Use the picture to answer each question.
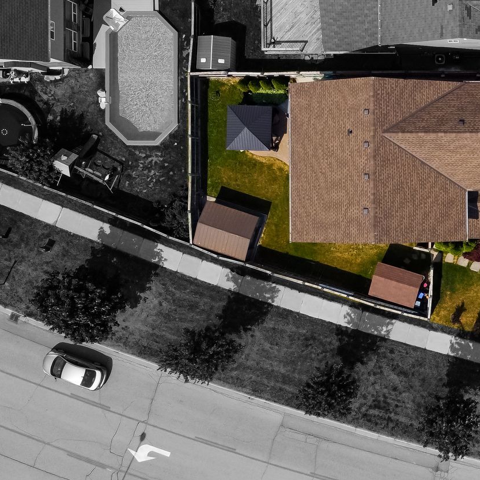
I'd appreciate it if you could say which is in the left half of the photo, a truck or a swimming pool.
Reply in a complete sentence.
What appears in the left half of the photo is a swimming pool.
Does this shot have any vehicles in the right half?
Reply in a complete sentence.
No, I see no vehicle in the right half.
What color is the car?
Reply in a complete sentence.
The car looks white in the image.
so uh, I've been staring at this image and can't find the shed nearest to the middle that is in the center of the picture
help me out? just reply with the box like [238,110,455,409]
[194,201,264,261]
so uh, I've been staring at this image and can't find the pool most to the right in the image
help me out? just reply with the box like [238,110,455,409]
[106,11,184,145]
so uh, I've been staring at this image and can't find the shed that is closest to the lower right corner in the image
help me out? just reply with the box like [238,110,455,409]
[369,263,426,308]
